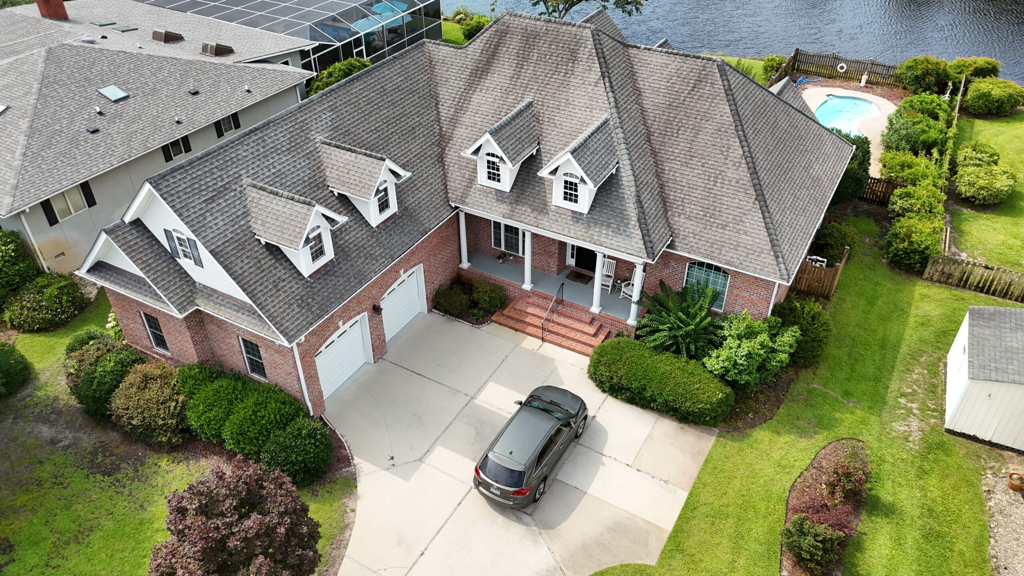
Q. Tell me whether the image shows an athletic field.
No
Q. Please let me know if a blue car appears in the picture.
No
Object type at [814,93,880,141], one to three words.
swimming pool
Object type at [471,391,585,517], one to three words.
car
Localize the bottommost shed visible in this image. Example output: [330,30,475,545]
[937,305,1024,459]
